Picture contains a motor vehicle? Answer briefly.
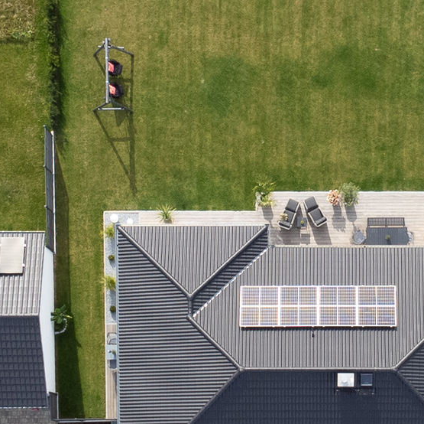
No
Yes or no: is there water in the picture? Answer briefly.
No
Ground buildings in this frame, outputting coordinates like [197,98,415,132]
[115,222,424,424]
[0,229,55,410]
